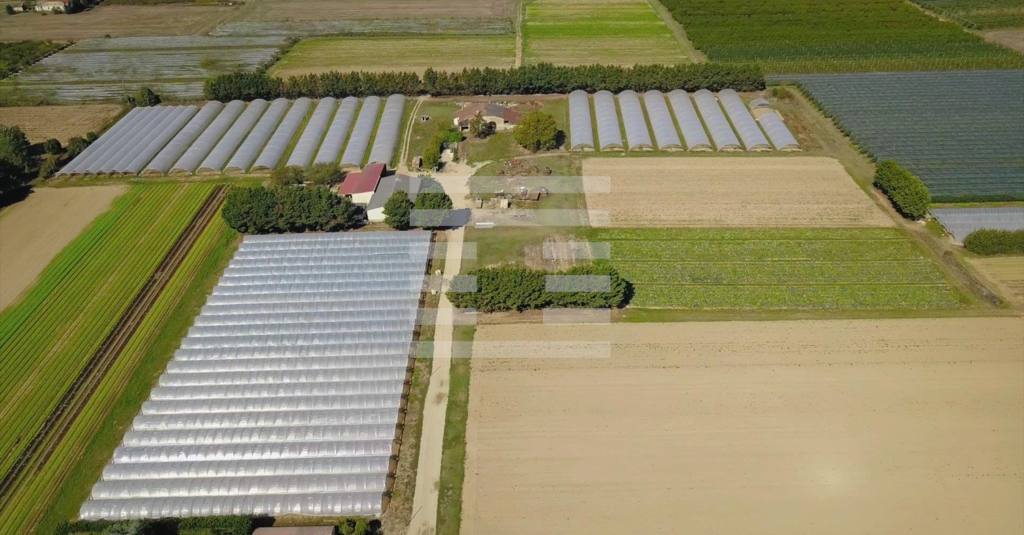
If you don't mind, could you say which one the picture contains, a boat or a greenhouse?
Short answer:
greenhouse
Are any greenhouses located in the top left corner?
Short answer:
Yes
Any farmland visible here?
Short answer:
Yes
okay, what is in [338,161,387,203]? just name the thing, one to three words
barn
